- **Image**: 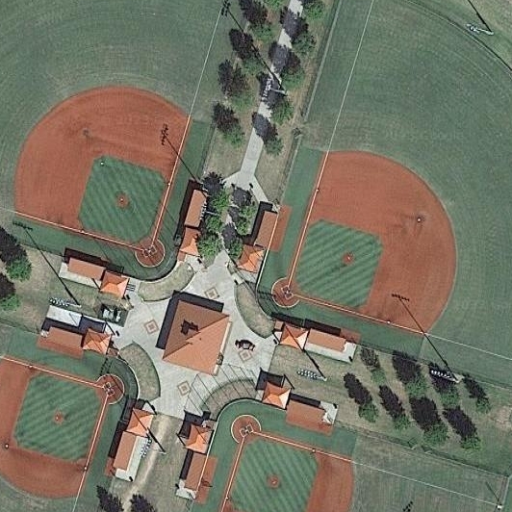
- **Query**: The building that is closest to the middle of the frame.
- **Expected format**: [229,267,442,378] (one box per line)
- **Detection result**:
[238,245,268,273]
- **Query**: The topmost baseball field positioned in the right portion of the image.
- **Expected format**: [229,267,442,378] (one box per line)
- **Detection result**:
[257,0,512,389]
